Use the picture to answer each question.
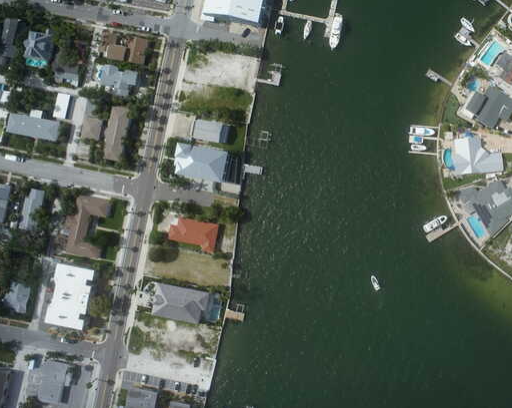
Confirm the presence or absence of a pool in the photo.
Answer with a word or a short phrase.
Yes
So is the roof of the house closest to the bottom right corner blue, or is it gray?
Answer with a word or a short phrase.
gray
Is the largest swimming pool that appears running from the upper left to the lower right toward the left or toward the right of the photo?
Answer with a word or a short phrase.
right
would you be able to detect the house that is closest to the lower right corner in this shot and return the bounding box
[461,179,512,238]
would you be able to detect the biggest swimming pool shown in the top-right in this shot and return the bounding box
[479,39,506,66]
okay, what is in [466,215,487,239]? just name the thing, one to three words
swimming pool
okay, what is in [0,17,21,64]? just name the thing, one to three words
house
